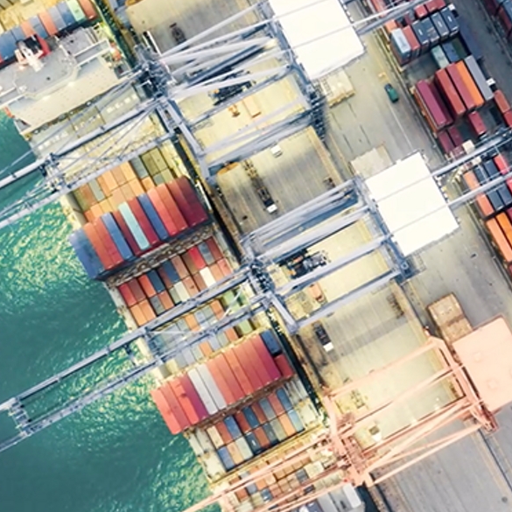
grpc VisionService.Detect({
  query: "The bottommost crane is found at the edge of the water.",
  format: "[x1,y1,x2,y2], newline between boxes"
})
[164,309,512,512]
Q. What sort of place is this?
port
